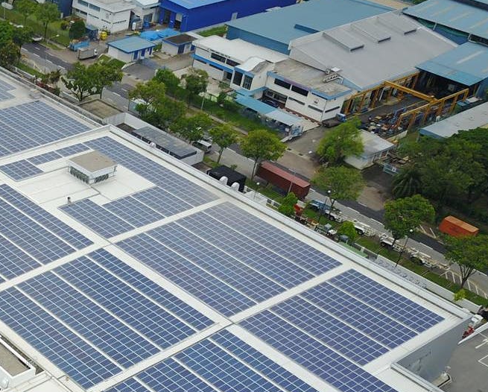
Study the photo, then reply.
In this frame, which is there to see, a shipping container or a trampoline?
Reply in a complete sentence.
There is a shipping container in the scene.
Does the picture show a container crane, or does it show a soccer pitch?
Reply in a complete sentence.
It is a container crane that can be seen here.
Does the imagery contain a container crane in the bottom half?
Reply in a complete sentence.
No, I see no container crane in the bottom half.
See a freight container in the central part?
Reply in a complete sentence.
Yes, looking in the central part, one can make out a freight container.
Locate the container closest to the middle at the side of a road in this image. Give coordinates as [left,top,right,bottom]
[256,156,317,195]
